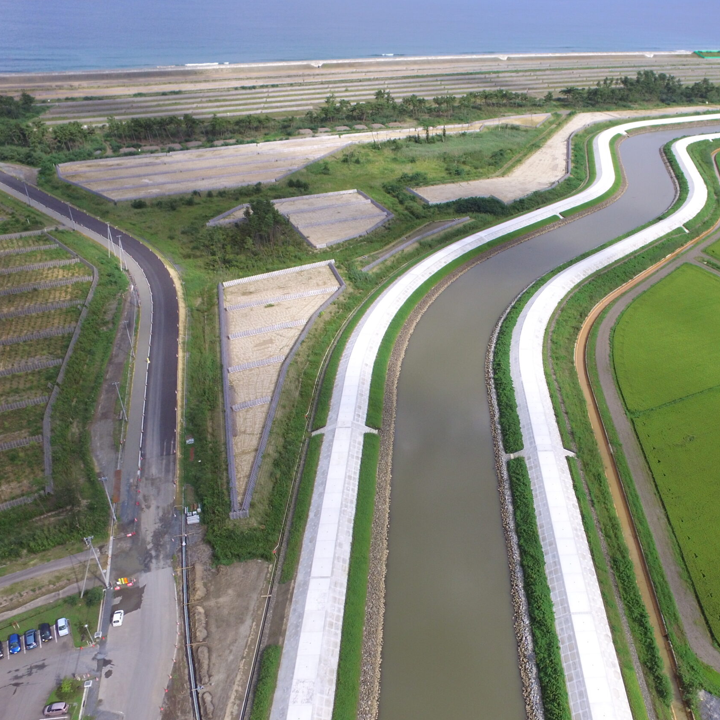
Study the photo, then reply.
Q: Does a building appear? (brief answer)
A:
No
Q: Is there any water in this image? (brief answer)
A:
Yes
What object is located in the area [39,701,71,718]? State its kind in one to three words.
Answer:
car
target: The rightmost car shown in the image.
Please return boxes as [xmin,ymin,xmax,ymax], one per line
[112,607,125,625]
